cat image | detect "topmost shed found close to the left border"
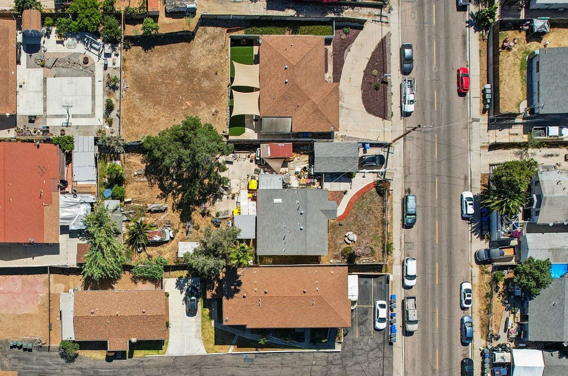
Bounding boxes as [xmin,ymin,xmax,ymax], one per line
[22,10,43,36]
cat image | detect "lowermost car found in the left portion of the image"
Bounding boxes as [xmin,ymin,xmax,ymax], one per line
[185,287,199,315]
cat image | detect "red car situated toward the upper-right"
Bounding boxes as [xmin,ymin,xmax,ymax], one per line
[456,68,471,96]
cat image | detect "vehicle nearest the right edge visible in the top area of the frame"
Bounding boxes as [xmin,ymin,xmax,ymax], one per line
[532,124,568,139]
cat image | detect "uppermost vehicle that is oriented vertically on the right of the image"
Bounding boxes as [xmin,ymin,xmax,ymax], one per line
[400,42,414,75]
